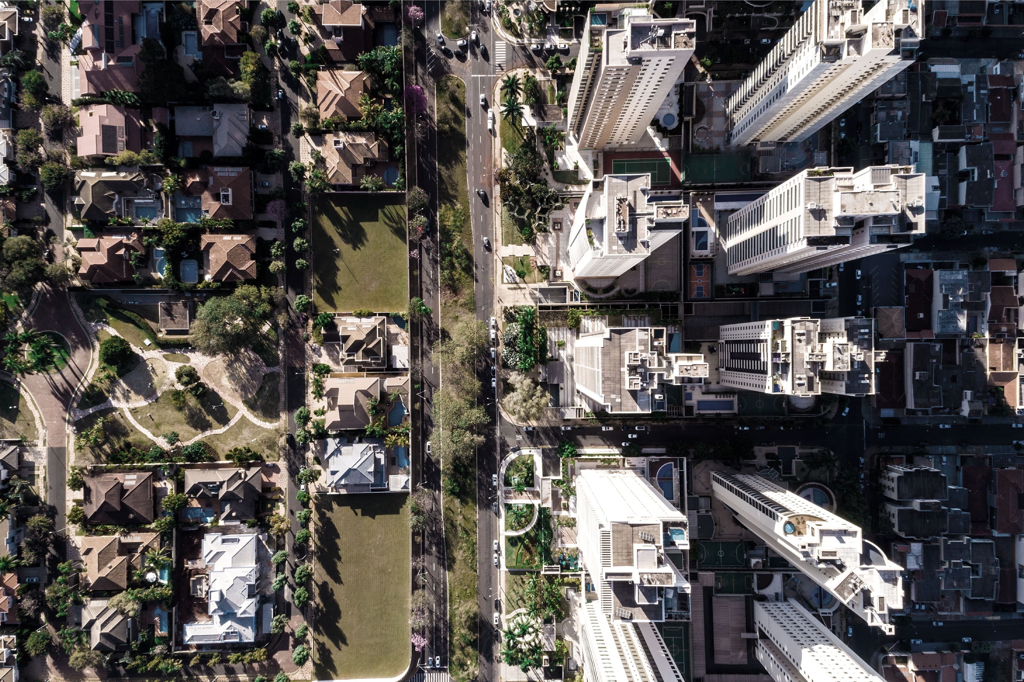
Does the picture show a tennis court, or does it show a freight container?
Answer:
tennis court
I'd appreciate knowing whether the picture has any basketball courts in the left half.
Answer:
No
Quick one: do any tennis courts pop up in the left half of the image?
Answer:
No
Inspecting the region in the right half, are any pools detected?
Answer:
Yes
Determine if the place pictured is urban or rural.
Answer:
urban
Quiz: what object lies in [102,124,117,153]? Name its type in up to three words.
solar panel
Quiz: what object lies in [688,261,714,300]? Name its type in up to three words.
basketball court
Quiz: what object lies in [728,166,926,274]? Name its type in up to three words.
building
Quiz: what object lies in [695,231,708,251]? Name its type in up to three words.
swimming pool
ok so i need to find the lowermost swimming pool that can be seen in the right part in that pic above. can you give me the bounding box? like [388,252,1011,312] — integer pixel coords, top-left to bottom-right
[812,587,834,608]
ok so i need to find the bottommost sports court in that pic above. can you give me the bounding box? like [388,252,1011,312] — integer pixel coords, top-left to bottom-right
[656,622,690,682]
